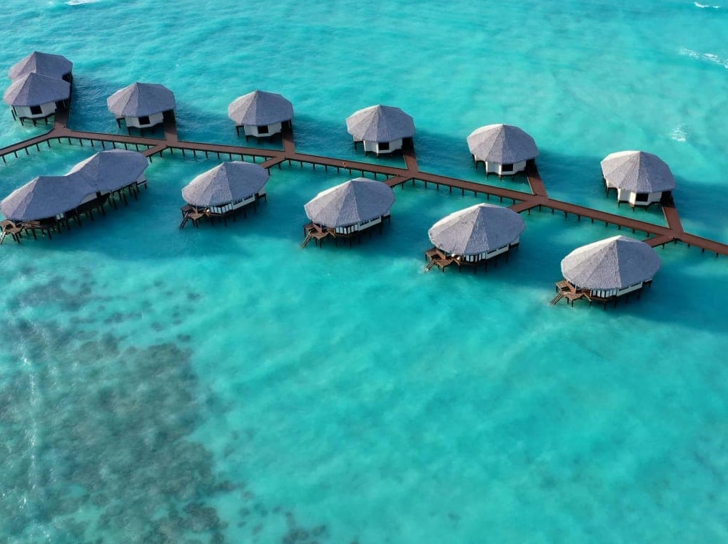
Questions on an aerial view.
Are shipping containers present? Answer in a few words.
No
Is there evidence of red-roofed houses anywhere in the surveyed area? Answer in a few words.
No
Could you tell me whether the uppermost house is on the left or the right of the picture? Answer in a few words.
left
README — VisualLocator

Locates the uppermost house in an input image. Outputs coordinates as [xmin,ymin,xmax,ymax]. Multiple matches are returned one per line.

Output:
[12,48,80,97]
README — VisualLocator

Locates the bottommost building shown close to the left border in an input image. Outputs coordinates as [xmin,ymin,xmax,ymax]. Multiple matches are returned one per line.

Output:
[0,146,149,250]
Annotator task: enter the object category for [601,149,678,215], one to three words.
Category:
house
